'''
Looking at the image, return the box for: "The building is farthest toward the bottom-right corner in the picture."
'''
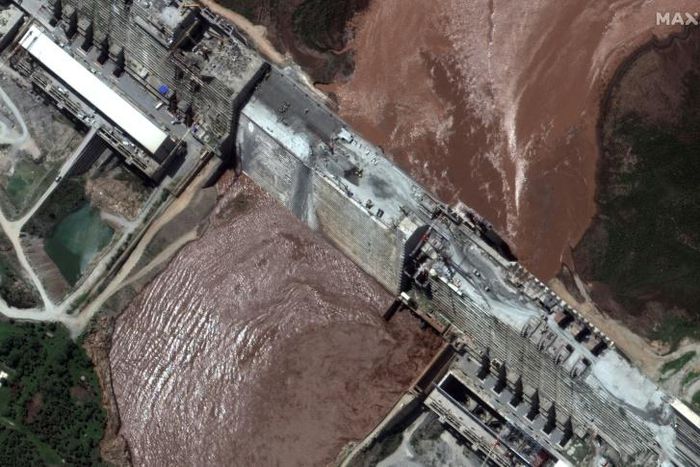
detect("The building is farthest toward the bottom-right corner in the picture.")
[649,378,700,427]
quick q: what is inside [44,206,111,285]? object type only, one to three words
pond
